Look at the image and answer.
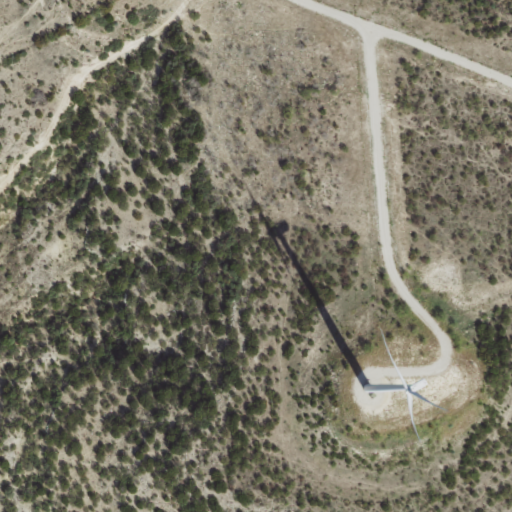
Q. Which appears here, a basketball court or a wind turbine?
wind turbine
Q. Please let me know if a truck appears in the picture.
No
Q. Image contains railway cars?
No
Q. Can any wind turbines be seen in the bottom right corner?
Yes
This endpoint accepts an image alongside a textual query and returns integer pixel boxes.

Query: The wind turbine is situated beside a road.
[362,327,449,436]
